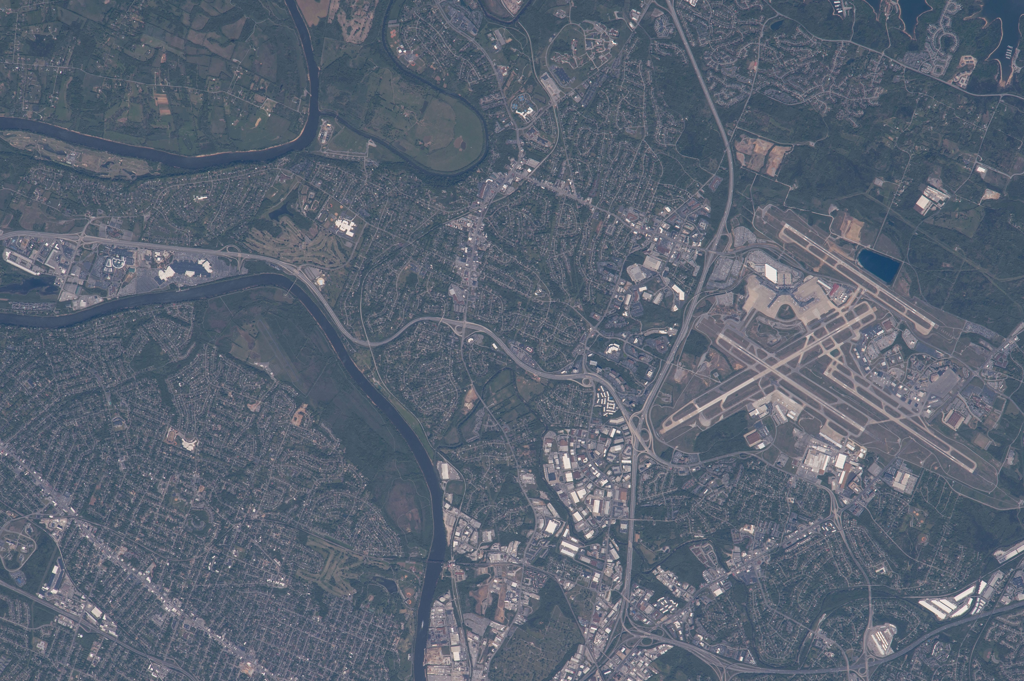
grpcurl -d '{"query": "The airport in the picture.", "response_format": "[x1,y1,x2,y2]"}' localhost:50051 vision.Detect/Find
[651,208,997,491]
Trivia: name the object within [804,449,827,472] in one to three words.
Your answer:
building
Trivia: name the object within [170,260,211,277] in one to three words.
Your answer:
building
